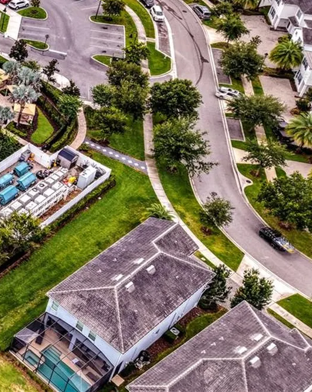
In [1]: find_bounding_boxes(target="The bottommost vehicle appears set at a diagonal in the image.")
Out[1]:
[246,215,301,252]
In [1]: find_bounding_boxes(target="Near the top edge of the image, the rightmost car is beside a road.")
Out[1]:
[190,0,216,17]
